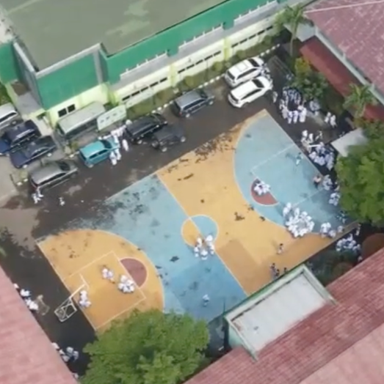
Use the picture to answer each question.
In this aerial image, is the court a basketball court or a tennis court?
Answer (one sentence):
Specifically, the court is a basketball court.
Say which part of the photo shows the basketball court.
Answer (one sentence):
The basketball court is located in the center region of the scene.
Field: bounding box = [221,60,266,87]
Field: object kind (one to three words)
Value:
car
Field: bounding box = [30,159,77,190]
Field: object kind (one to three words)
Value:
car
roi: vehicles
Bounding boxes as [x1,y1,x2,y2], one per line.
[0,125,39,154]
[172,91,215,118]
[228,78,273,108]
[221,60,266,87]
[78,140,116,166]
[10,136,57,169]
[48,99,112,147]
[0,103,21,128]
[120,115,167,144]
[30,159,77,190]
